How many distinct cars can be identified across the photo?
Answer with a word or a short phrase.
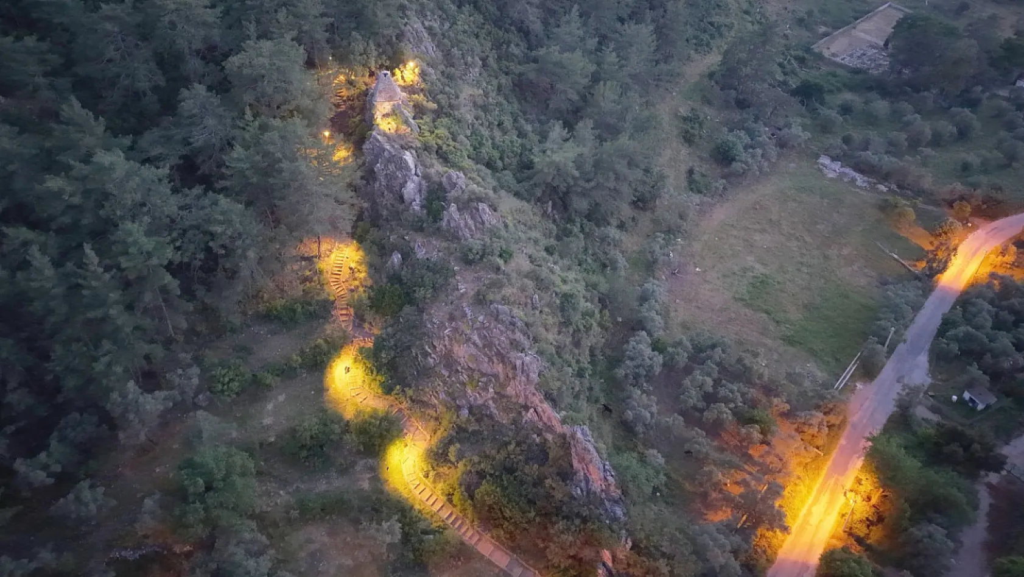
none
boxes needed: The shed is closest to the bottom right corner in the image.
[962,389,1002,415]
